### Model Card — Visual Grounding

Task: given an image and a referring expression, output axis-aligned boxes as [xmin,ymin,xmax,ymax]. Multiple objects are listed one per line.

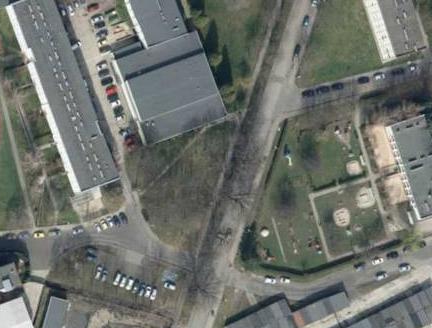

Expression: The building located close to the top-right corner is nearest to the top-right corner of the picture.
[365,0,427,61]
